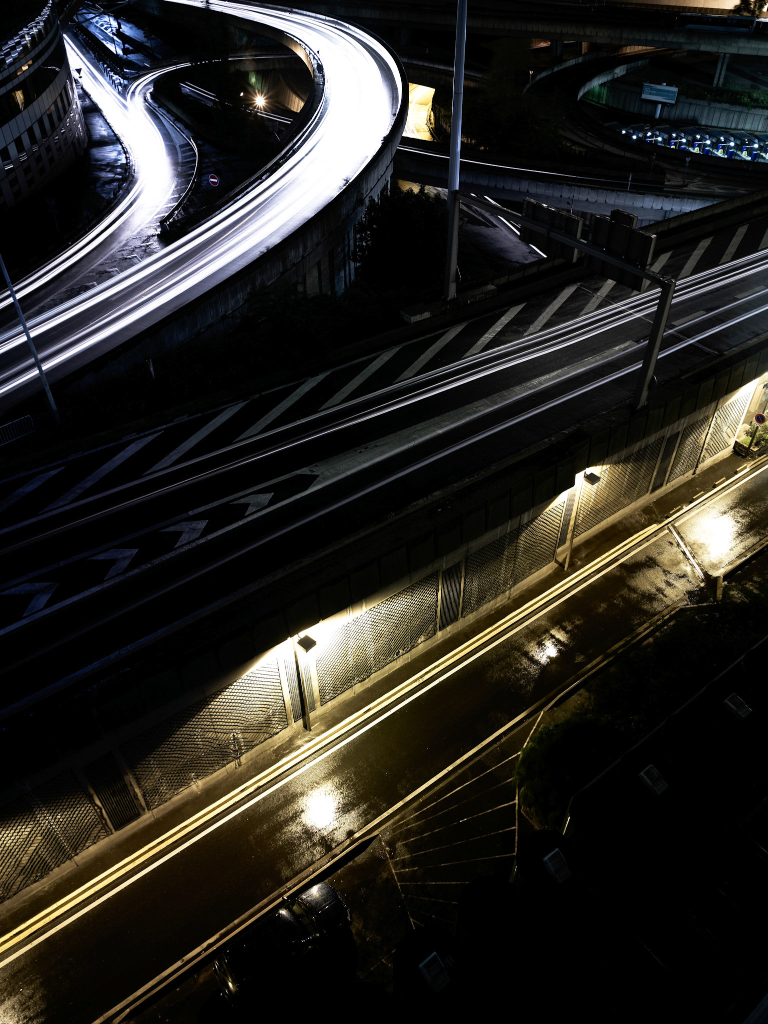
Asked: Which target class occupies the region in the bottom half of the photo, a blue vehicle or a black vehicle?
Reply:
black vehicle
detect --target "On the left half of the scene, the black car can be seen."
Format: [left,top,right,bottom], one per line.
[212,891,350,1006]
